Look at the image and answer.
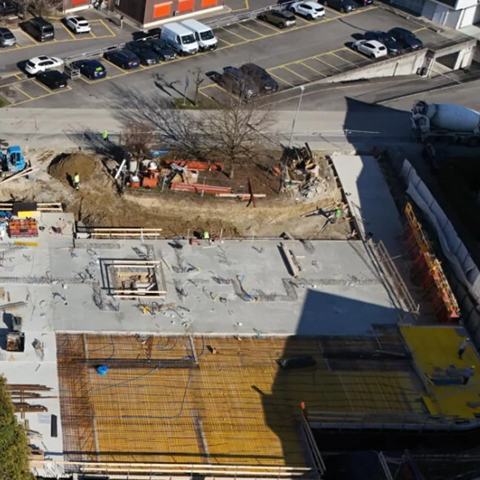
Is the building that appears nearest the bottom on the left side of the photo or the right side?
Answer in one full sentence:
The building that appears nearest the bottom appears in the right half of the scene.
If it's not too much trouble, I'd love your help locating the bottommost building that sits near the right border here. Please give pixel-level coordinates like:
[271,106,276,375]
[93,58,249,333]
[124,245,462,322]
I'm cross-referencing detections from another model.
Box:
[418,38,480,78]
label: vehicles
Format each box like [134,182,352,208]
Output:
[184,15,220,46]
[263,8,293,27]
[37,68,67,90]
[66,15,91,33]
[398,102,480,146]
[355,39,389,57]
[0,0,17,16]
[391,26,424,47]
[372,30,405,52]
[129,40,160,63]
[161,18,198,50]
[242,63,277,89]
[23,54,63,75]
[23,17,54,40]
[75,59,106,80]
[0,143,32,173]
[106,49,138,69]
[149,36,180,58]
[294,1,324,18]
[0,29,18,47]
